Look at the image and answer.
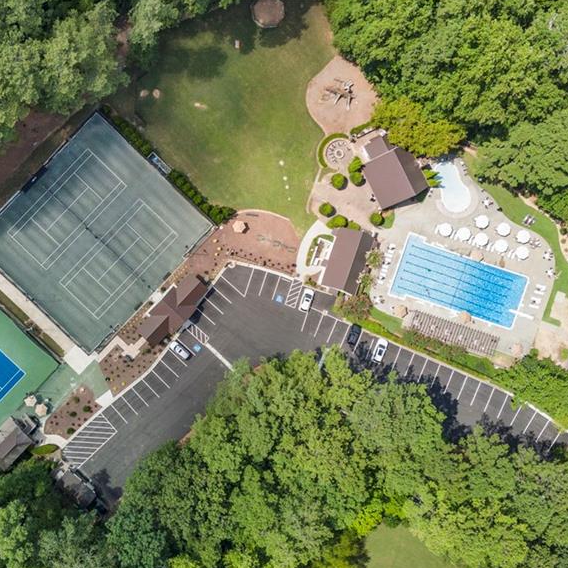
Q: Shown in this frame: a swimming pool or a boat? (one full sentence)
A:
The image shows a swimming pool.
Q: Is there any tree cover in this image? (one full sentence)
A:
Yes, tree cover can be seen from above here.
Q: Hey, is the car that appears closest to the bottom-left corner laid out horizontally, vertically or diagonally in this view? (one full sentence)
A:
Seen from above, the car that appears closest to the bottom-left corner lies diagonally.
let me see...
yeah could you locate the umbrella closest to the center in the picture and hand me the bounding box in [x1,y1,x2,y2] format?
[233,220,247,233]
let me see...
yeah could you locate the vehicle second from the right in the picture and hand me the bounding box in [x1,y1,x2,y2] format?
[346,323,361,347]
